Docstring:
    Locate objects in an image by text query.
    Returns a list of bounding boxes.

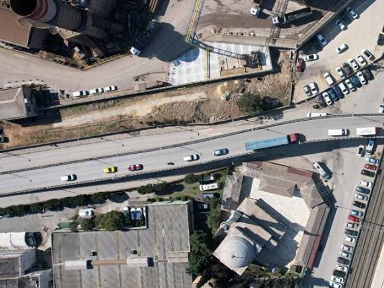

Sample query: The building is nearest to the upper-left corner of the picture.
[0,6,45,48]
